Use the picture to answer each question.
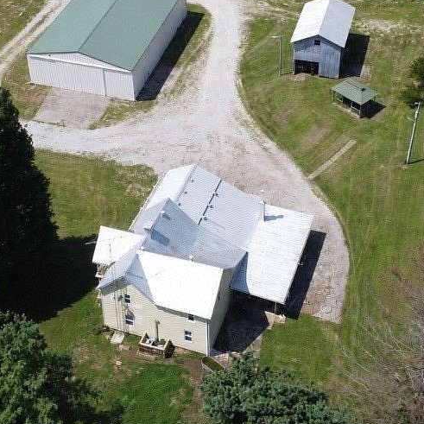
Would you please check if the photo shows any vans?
No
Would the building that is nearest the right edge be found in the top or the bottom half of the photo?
top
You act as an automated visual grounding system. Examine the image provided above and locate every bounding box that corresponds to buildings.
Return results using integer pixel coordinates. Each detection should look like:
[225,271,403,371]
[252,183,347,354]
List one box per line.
[85,164,316,352]
[294,0,351,79]
[24,0,187,100]
[330,76,385,120]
